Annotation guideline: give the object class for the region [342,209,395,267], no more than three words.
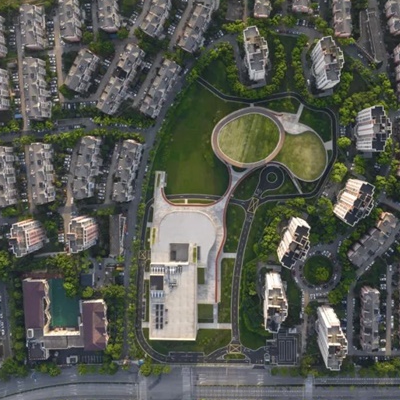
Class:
building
